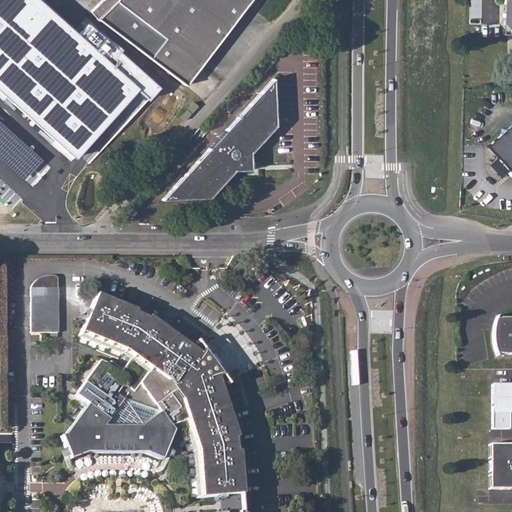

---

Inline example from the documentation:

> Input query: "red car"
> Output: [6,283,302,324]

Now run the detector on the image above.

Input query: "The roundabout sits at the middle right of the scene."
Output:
[322,196,423,296]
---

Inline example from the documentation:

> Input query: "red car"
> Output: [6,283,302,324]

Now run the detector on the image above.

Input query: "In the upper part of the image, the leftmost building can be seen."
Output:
[0,122,50,186]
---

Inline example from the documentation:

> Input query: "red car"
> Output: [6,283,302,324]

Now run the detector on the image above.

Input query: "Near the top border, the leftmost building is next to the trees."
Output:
[0,0,160,164]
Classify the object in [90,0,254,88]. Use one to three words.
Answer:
building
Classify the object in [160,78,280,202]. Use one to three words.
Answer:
building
